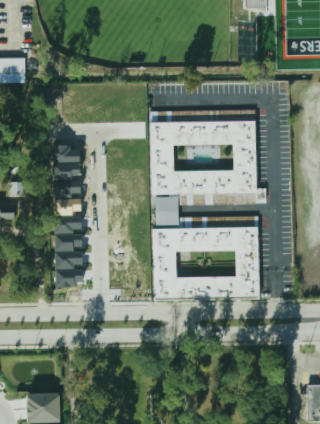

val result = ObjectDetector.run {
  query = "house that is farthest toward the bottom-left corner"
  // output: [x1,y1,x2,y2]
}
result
[26,394,59,424]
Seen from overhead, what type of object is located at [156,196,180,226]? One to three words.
building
